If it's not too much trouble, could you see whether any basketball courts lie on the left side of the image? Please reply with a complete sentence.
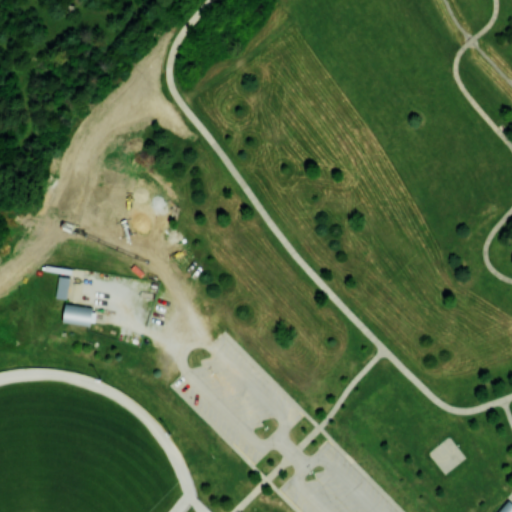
No, no basketball court appears on the left side of the image.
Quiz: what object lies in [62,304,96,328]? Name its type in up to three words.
building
